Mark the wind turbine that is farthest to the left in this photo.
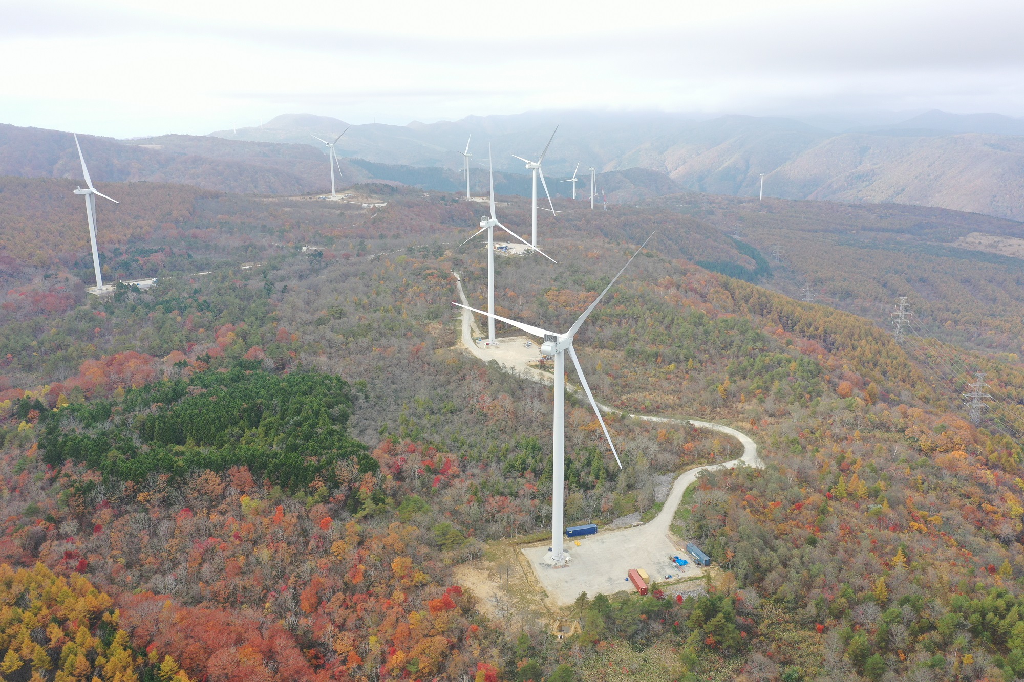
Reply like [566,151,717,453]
[76,132,120,288]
